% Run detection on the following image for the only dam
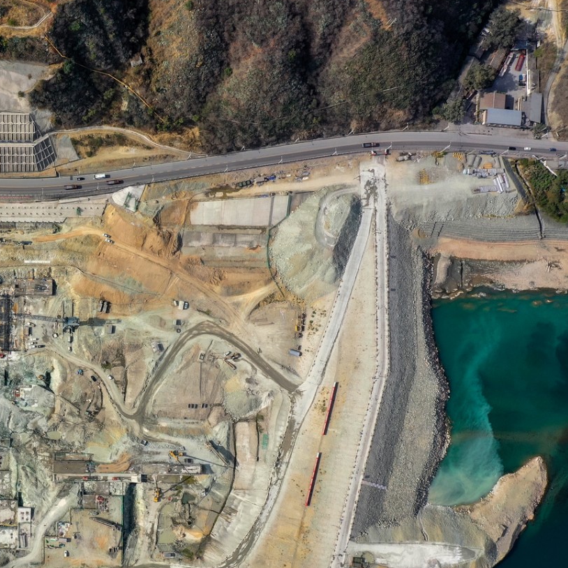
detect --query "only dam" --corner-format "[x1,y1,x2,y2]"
[252,154,451,568]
